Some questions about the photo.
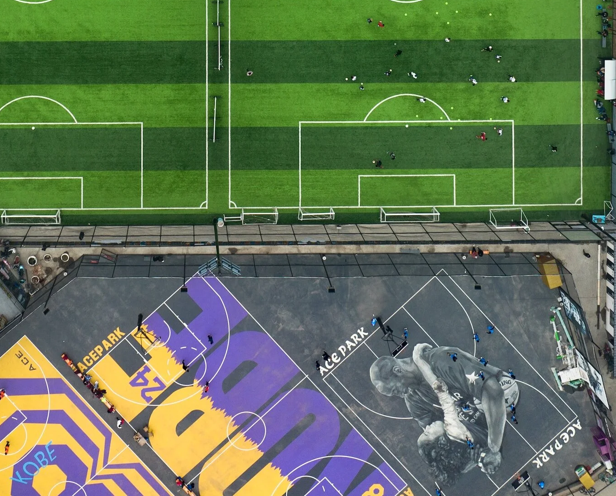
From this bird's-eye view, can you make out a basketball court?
Yes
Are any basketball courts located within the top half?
No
